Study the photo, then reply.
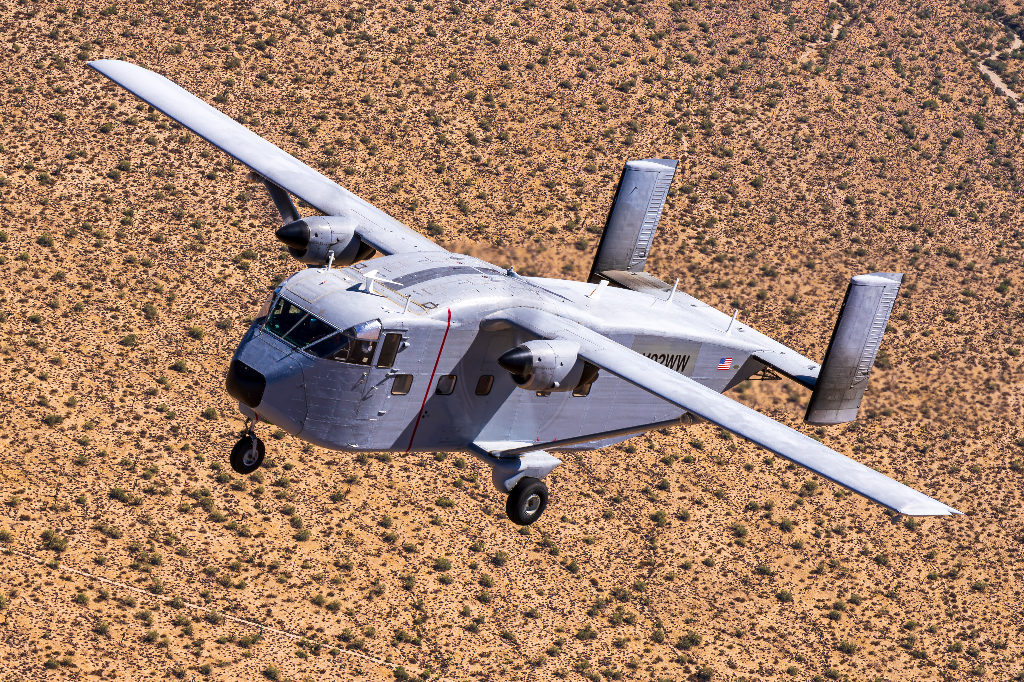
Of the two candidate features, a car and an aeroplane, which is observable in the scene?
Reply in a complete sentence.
I can see an aeroplane in this picture.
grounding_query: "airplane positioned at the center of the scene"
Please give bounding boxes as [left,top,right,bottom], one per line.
[87,58,971,528]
